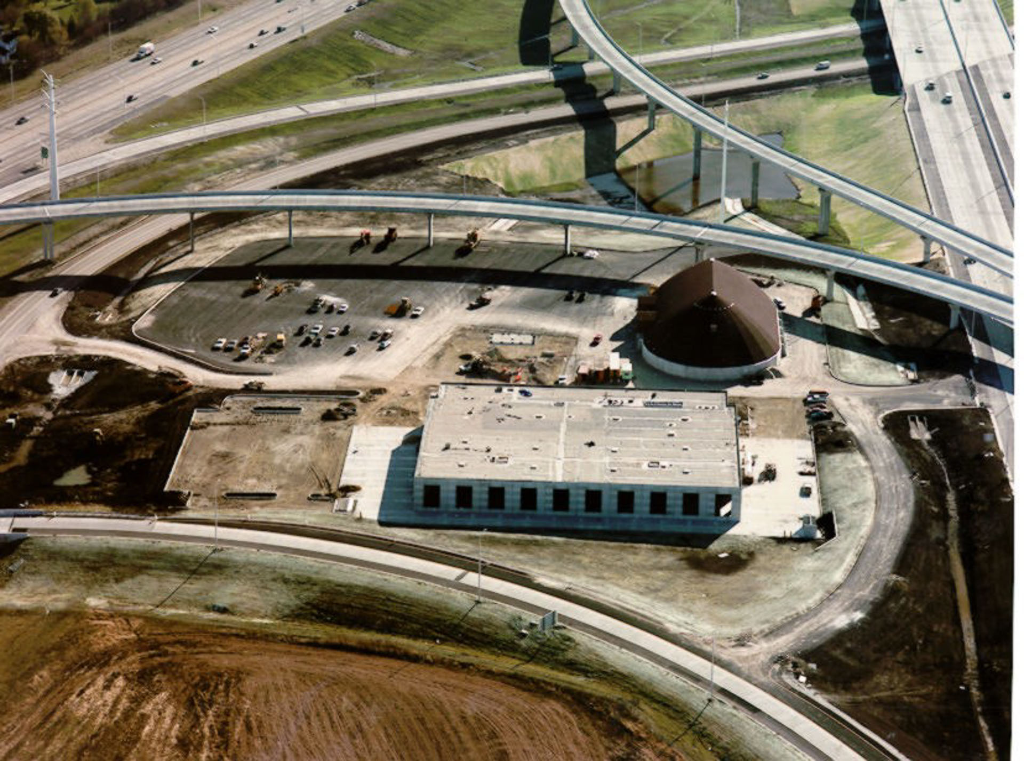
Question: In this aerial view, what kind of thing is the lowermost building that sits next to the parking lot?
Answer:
warehouse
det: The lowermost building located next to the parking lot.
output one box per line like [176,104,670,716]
[414,384,741,521]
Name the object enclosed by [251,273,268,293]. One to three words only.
work vehicle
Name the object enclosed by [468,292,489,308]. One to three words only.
vehicle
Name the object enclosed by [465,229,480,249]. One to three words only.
work vehicle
